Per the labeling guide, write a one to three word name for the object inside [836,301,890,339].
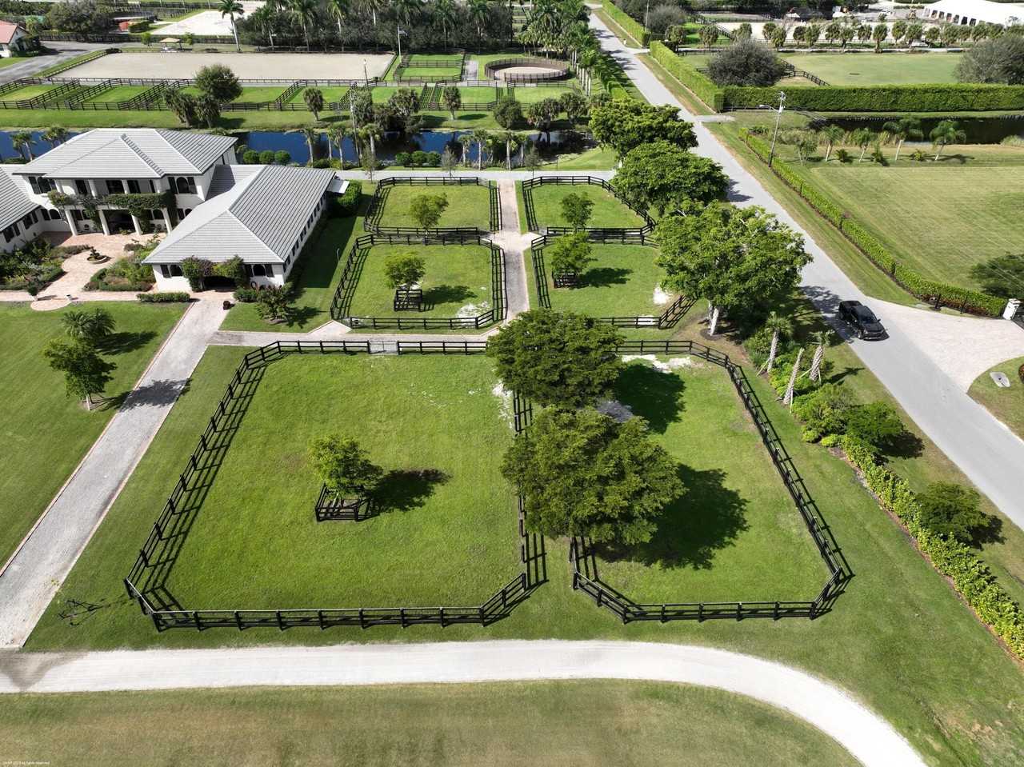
truck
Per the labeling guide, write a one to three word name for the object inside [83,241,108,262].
fountain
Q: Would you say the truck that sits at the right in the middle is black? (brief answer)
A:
Yes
